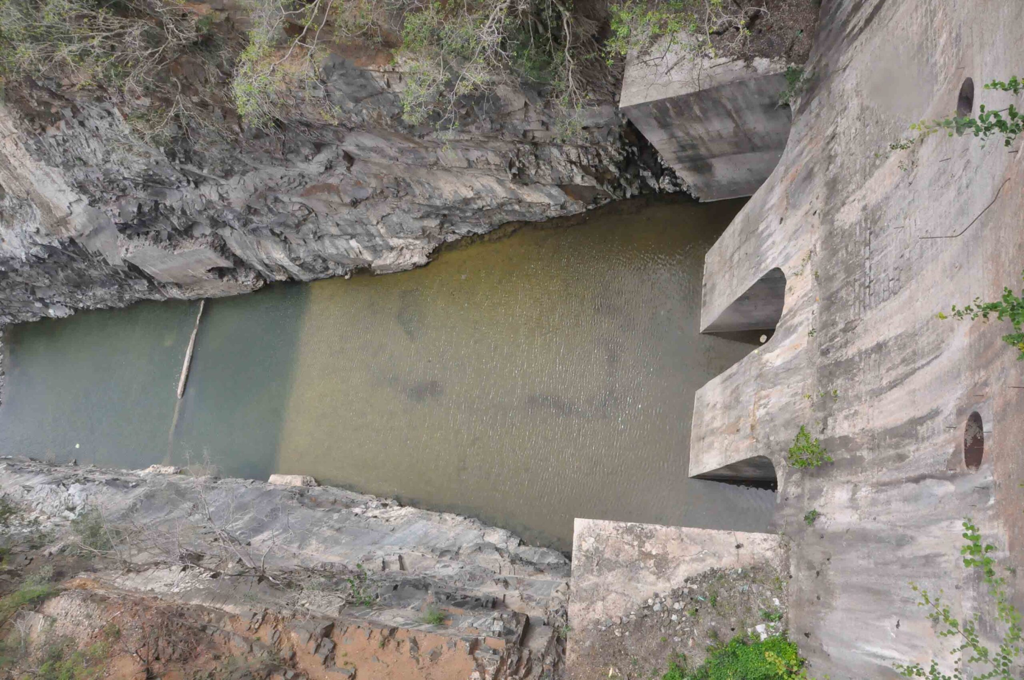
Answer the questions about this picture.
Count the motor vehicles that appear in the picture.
zero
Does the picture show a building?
No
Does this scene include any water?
Yes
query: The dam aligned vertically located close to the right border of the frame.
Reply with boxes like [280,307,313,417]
[690,0,1024,680]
